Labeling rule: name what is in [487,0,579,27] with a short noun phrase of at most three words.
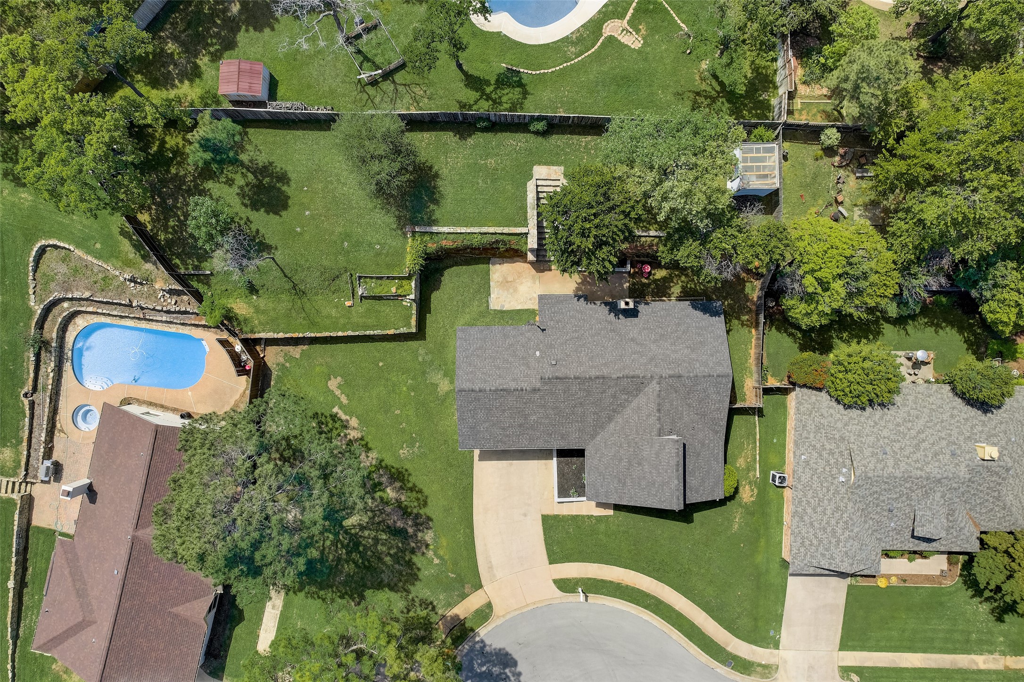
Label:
swimming pool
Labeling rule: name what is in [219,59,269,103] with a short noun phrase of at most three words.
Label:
shed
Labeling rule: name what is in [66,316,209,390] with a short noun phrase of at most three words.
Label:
swimming pool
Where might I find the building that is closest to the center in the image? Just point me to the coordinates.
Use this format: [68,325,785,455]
[456,294,732,511]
